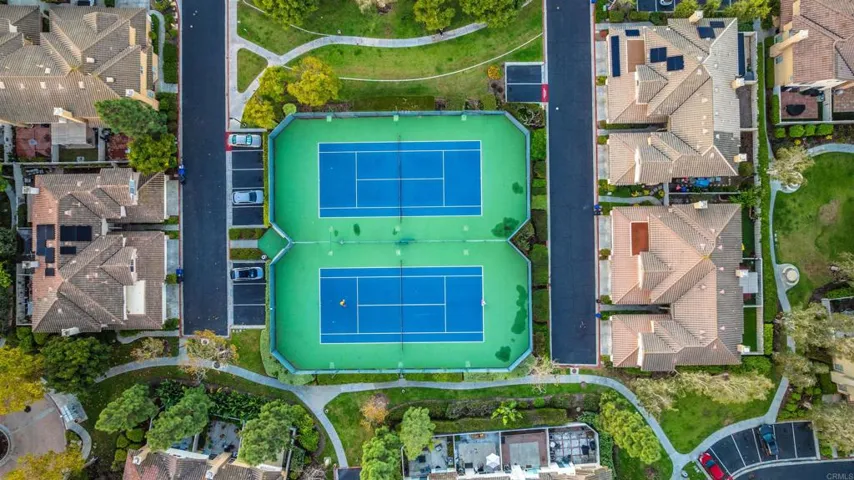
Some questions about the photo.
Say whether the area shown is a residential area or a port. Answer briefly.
residential area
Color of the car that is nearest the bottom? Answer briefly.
red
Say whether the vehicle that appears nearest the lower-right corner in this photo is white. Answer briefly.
No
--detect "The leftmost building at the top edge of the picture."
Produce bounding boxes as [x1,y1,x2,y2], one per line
[0,6,162,146]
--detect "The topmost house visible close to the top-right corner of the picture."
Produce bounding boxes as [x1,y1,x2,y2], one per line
[769,0,854,90]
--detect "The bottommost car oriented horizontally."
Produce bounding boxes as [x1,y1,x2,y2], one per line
[233,266,265,281]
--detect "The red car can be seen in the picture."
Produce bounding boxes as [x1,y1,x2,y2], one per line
[701,452,730,480]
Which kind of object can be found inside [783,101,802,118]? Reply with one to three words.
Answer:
umbrella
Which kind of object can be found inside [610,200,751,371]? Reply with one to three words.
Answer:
house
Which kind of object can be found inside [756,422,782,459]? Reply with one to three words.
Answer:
vehicle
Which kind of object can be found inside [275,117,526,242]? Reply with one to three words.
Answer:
tennis court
